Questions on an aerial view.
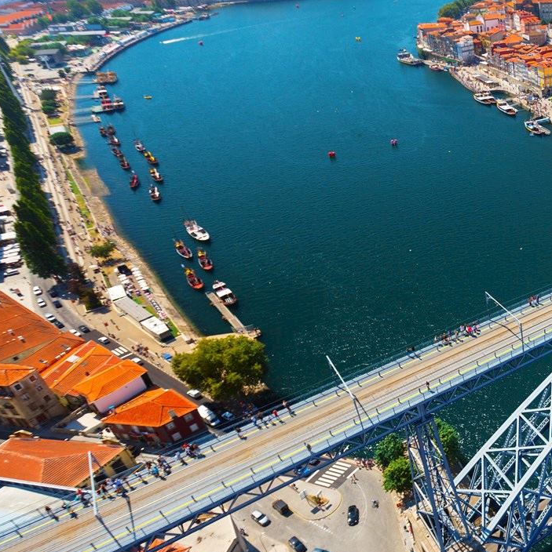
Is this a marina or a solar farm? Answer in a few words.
marina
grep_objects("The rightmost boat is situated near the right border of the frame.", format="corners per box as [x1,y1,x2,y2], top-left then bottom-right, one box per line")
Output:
[524,119,546,133]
